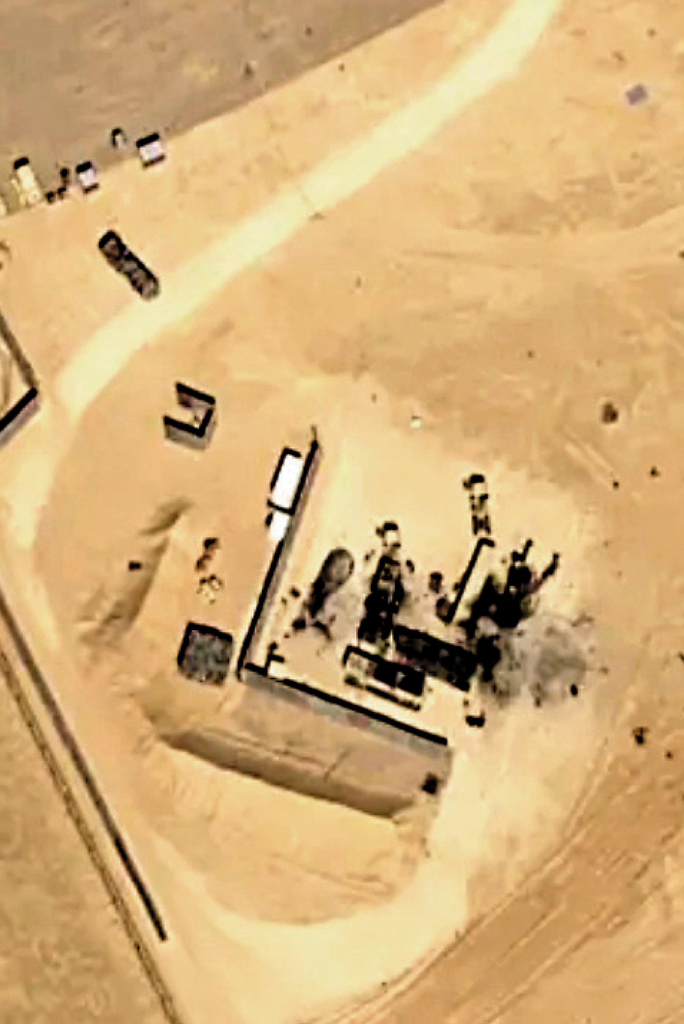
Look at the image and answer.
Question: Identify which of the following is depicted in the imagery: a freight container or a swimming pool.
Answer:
freight container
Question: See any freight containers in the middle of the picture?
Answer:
Yes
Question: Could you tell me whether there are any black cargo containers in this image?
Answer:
Yes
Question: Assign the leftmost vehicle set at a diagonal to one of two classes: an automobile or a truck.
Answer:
truck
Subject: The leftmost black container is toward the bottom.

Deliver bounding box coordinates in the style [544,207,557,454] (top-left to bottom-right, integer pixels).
[388,629,480,687]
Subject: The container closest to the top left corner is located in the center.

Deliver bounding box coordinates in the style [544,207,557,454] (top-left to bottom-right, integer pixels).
[273,456,305,507]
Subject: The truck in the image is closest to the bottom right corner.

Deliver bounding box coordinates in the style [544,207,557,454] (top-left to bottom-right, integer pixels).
[463,680,488,726]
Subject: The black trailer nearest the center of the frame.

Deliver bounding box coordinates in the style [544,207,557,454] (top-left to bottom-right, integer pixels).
[365,561,402,640]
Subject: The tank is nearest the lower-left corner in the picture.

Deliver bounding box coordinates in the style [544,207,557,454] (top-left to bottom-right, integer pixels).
[313,558,357,622]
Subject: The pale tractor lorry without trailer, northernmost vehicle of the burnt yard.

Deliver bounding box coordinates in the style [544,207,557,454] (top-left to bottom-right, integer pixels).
[469,485,496,538]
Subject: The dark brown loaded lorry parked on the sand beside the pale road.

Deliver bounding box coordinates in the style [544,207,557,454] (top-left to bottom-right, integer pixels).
[100,240,158,304]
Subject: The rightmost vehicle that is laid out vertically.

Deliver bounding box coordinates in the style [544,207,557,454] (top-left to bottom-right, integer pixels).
[504,554,533,605]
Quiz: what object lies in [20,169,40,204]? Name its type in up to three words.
vehicle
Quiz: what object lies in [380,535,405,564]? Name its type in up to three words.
truck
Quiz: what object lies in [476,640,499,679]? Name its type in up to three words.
truck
